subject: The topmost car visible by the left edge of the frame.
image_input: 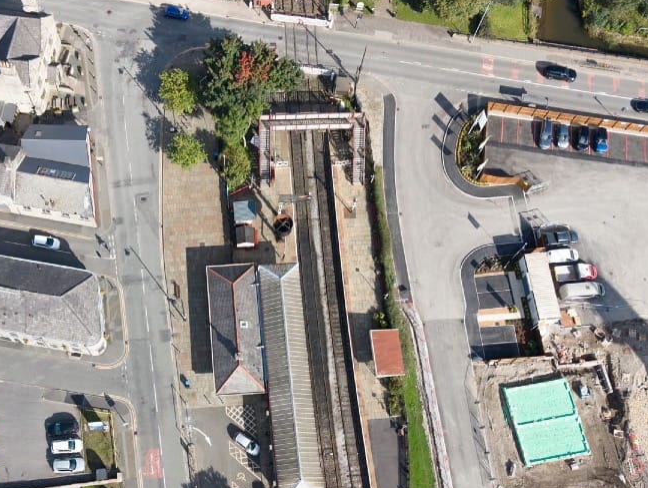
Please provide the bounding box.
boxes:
[31,234,62,251]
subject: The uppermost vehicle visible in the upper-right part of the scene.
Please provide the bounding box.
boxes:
[542,65,575,83]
